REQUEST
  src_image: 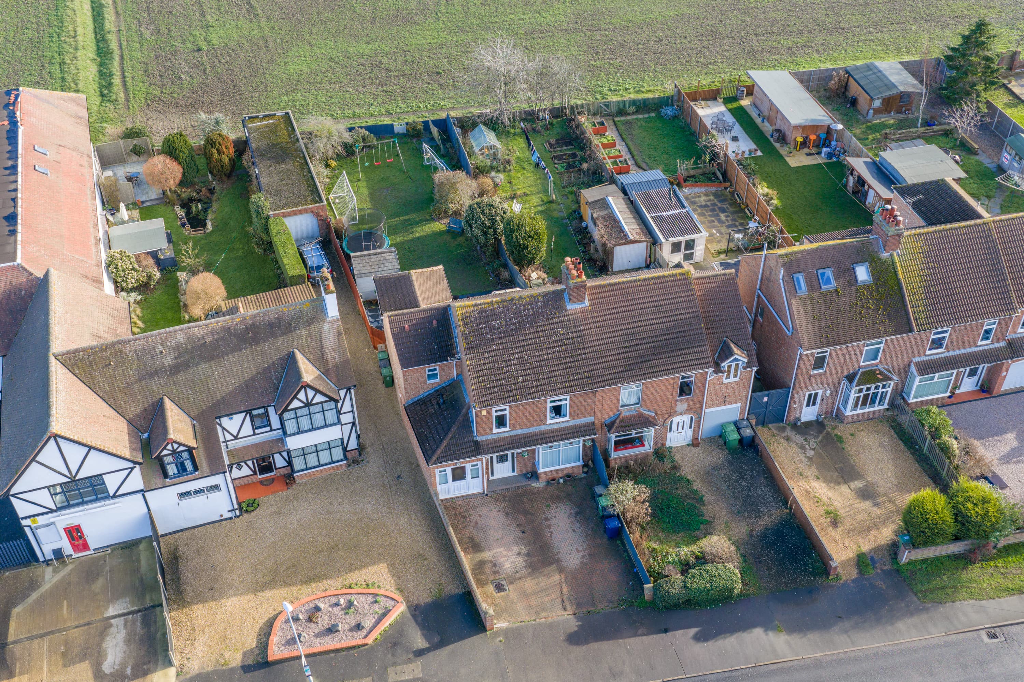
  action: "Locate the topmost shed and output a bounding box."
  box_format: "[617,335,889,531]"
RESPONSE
[839,59,927,123]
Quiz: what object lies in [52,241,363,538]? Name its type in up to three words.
house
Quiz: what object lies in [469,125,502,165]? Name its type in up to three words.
greenhouse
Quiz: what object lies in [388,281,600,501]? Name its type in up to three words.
house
